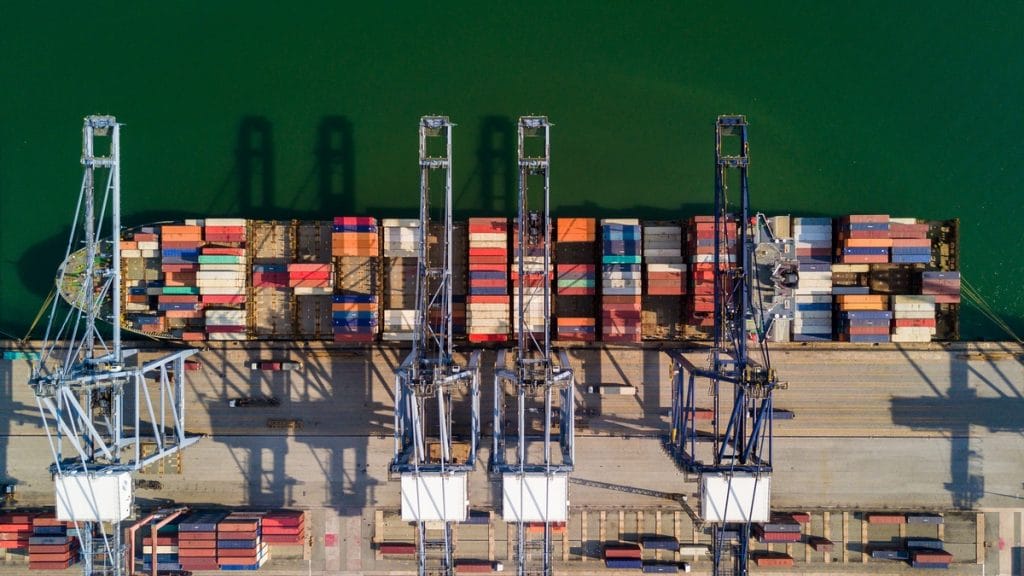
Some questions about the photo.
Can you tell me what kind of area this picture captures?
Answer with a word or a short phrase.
port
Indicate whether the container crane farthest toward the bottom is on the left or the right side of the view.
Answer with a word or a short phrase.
left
